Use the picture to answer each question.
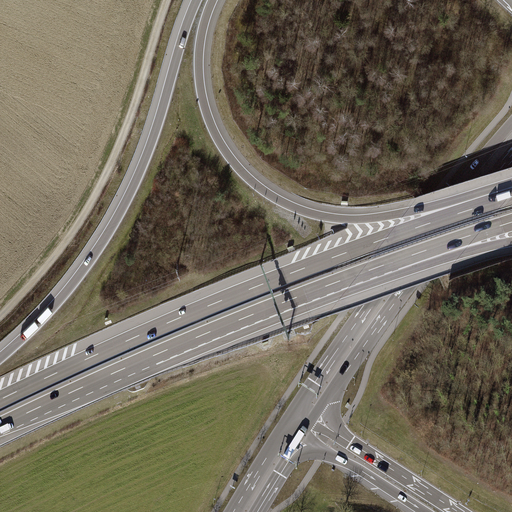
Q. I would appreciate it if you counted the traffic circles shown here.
none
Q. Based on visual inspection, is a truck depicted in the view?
Yes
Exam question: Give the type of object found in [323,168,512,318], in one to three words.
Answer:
overpass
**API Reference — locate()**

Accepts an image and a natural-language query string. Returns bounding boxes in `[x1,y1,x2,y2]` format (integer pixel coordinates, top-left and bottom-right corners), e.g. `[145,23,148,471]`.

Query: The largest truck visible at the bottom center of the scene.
[284,424,308,459]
